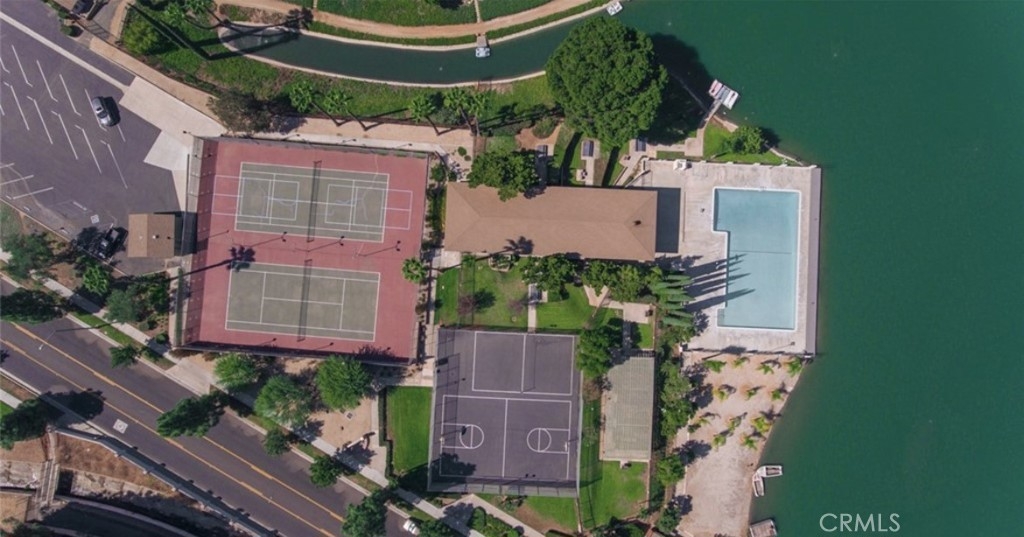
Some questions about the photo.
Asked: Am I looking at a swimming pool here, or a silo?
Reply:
swimming pool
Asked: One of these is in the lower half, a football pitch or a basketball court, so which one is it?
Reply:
basketball court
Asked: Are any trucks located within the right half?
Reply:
No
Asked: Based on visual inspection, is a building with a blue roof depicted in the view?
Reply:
No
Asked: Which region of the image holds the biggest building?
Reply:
center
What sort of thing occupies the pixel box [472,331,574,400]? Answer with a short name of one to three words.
sports court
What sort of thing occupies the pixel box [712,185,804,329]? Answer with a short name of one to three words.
swimming pool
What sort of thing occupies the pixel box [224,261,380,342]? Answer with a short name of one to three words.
tennis court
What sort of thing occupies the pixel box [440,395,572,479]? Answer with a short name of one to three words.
basketball court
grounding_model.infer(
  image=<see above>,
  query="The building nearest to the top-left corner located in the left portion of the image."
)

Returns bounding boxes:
[128,214,182,258]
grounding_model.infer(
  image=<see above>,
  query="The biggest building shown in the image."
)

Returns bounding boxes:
[445,182,658,262]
